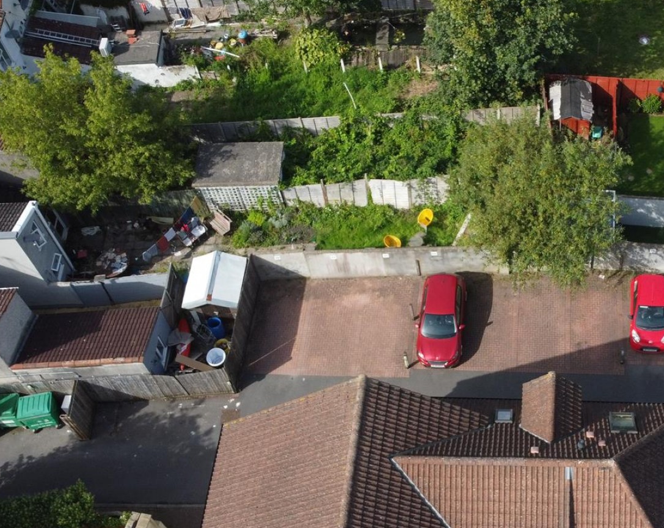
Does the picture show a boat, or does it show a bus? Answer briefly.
boat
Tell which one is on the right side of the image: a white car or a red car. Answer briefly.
red car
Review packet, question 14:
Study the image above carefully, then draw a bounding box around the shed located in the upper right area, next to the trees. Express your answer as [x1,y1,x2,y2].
[551,76,592,144]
